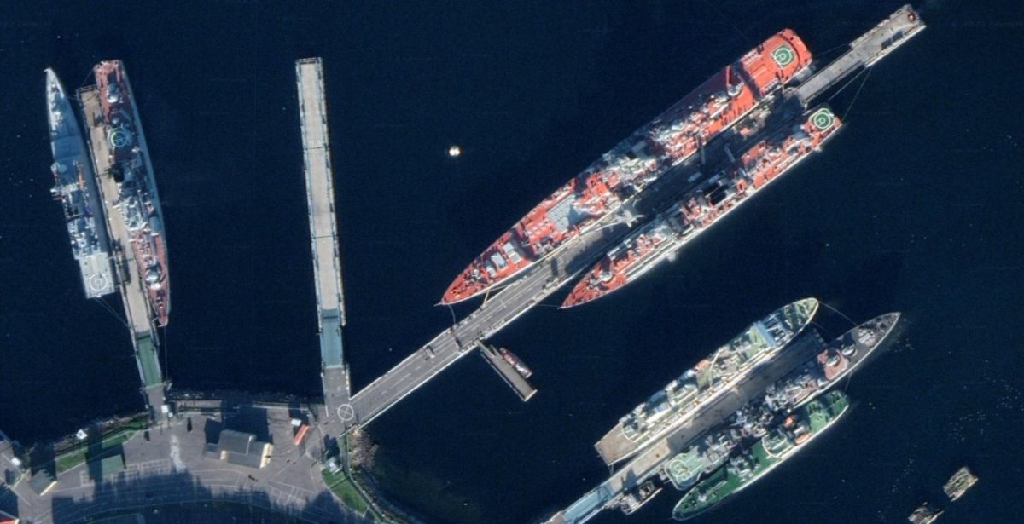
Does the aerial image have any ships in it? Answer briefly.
Yes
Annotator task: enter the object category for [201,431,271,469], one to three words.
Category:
building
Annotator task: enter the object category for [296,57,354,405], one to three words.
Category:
pier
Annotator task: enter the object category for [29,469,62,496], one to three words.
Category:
building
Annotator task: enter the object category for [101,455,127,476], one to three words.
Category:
shed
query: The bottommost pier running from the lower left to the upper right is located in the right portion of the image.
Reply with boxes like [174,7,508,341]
[544,329,829,524]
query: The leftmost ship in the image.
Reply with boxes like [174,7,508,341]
[44,68,119,301]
